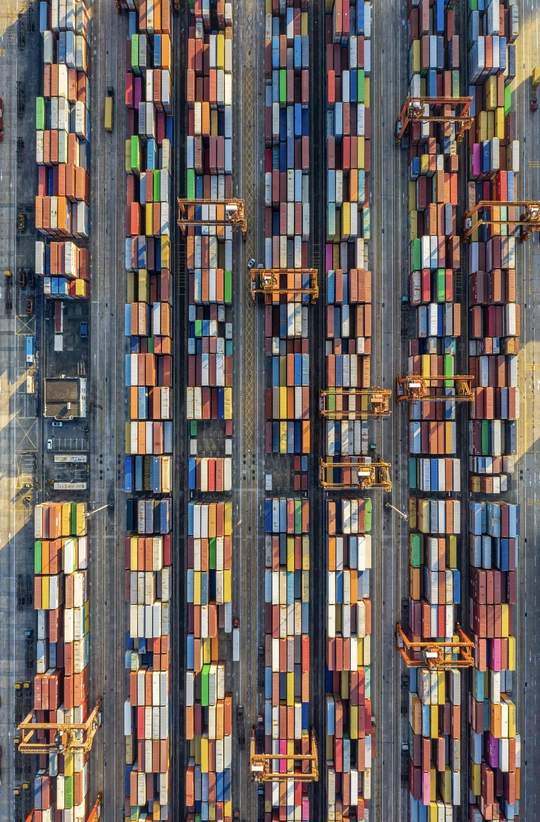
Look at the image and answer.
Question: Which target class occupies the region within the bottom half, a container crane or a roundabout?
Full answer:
Visible within the bottom half is a container crane.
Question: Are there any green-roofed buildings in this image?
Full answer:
No, there appears to be no green-roofed building in this shot.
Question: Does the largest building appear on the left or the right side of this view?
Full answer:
The largest building sits on the left side.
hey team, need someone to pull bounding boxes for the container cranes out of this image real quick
[394,621,477,669]
[461,199,540,244]
[14,694,105,751]
[246,722,321,783]
[394,374,477,403]
[176,197,252,242]
[394,95,477,149]
[247,267,320,306]
[315,458,392,490]
[315,390,389,417]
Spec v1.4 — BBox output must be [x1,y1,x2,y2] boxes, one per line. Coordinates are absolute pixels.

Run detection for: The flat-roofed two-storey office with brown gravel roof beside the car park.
[42,375,87,422]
